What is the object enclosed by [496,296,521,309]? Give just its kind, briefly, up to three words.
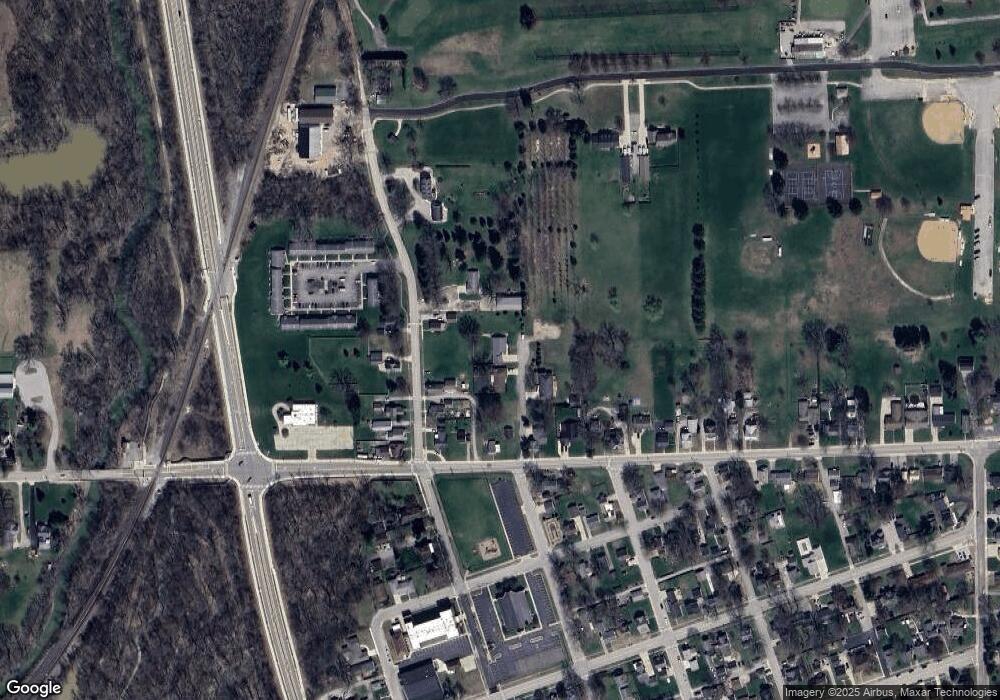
barn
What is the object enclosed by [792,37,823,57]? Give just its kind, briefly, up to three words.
building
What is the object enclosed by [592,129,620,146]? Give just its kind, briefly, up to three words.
house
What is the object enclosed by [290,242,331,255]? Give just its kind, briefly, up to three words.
building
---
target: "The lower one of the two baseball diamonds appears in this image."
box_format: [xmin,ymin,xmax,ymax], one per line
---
[918,219,960,263]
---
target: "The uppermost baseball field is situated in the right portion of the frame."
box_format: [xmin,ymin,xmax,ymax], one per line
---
[922,101,966,144]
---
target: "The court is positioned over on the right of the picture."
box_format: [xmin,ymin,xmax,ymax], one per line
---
[783,164,853,207]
